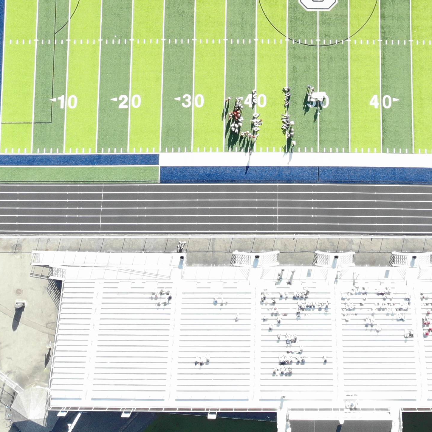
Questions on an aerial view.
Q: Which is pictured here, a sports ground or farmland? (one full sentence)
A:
What you see here is a sports ground.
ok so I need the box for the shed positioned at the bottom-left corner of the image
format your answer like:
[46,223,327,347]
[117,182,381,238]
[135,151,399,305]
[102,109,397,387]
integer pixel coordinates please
[6,382,55,432]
